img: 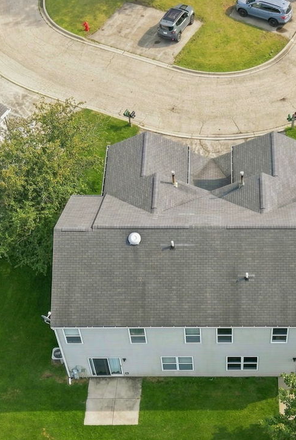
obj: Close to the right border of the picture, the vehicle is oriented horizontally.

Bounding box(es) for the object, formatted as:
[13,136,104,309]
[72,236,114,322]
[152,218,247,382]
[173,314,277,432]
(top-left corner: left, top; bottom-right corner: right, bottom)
[233,0,295,27]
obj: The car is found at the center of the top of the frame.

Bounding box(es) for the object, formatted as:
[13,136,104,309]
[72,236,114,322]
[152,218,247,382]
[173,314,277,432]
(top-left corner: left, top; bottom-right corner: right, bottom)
[155,6,196,44]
